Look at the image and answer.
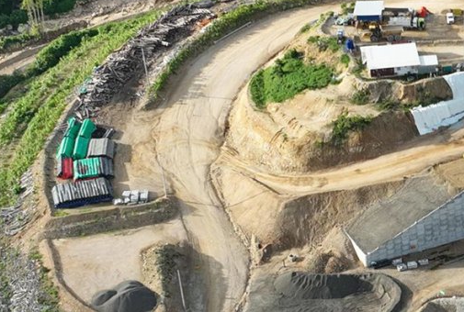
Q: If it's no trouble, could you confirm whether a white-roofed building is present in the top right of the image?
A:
Yes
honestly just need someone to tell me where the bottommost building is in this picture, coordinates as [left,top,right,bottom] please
[359,42,439,81]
